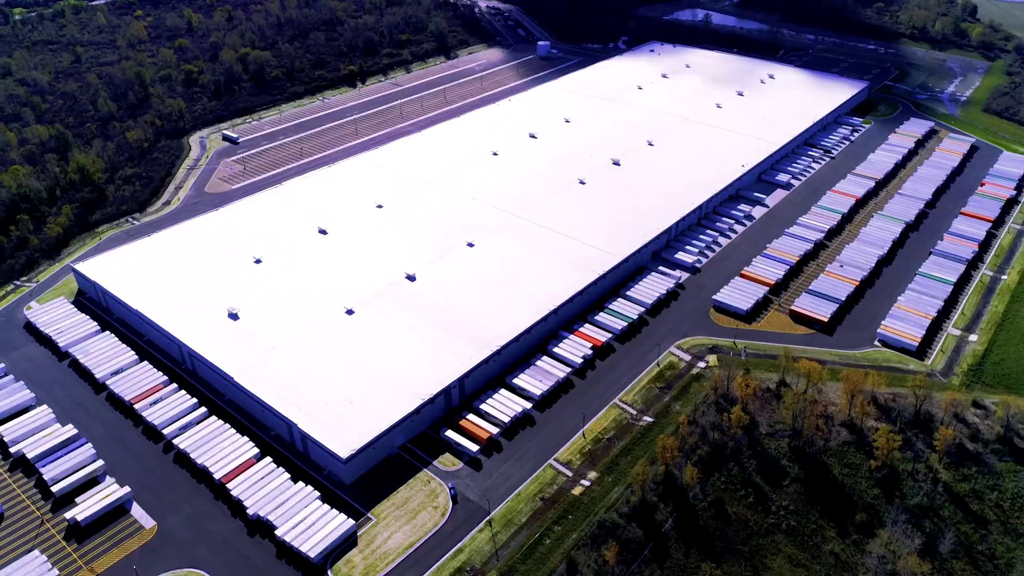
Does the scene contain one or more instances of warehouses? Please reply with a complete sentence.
Yes, the picture does show a warehouse.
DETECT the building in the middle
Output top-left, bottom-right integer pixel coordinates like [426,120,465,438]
[70,40,869,485]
